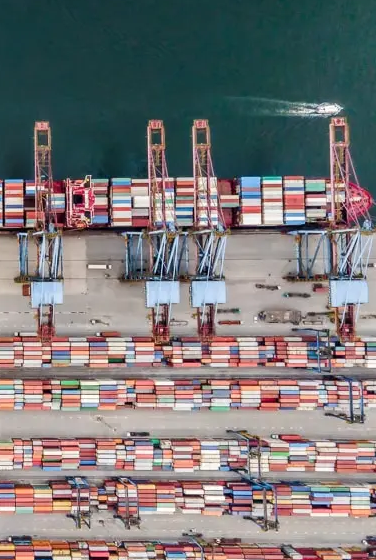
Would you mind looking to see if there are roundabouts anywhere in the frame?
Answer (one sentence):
No, there appears to be no roundabout in this shot.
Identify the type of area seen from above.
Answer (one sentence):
What you see here is a port.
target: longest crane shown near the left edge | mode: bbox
[5,115,66,338]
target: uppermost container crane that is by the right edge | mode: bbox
[272,113,376,336]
